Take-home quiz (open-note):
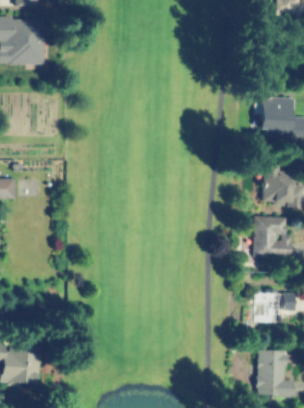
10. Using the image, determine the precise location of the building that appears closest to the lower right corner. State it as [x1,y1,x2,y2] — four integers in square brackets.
[258,350,296,397]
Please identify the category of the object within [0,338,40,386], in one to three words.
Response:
house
